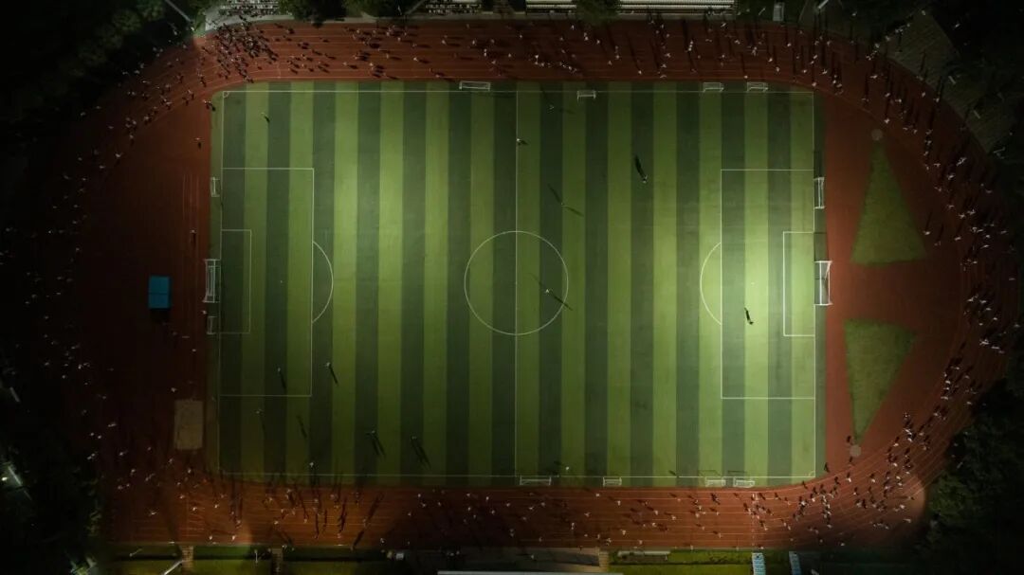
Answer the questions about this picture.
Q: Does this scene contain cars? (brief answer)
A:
No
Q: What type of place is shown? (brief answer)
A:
sports ground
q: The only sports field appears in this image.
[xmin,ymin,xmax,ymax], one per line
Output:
[203,80,828,489]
